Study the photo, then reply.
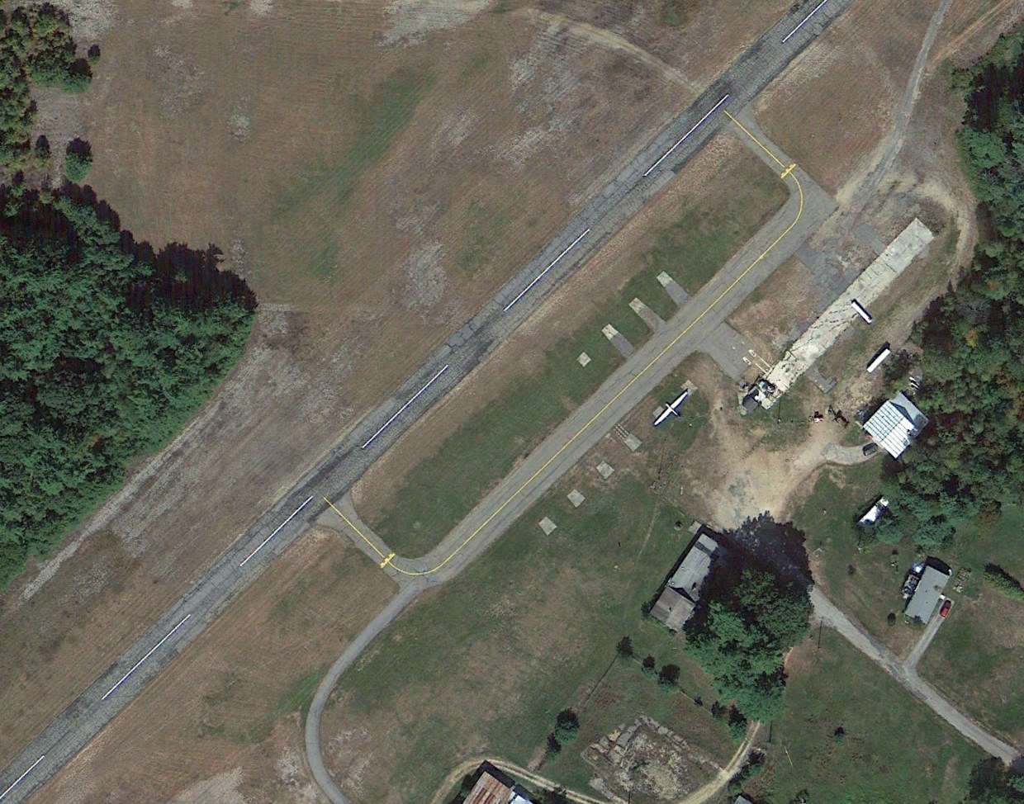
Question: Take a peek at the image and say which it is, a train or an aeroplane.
aeroplane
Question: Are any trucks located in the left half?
No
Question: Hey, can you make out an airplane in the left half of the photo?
No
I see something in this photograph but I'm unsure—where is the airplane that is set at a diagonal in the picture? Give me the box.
[655,391,687,426]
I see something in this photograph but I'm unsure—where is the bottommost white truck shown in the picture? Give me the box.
[857,500,889,525]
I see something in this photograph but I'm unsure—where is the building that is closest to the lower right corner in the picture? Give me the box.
[906,564,951,624]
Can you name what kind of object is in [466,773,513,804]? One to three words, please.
barn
